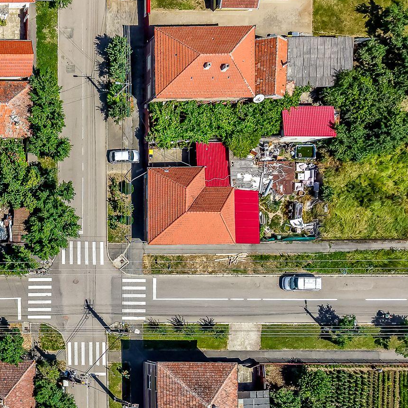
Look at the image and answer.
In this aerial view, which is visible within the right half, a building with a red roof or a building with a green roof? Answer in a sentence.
You can see a building with a red roof within the right half.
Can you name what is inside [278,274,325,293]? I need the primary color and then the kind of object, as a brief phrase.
white car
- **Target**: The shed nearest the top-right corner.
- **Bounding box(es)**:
[287,37,354,90]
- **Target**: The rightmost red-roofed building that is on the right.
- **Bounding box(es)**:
[270,106,337,140]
